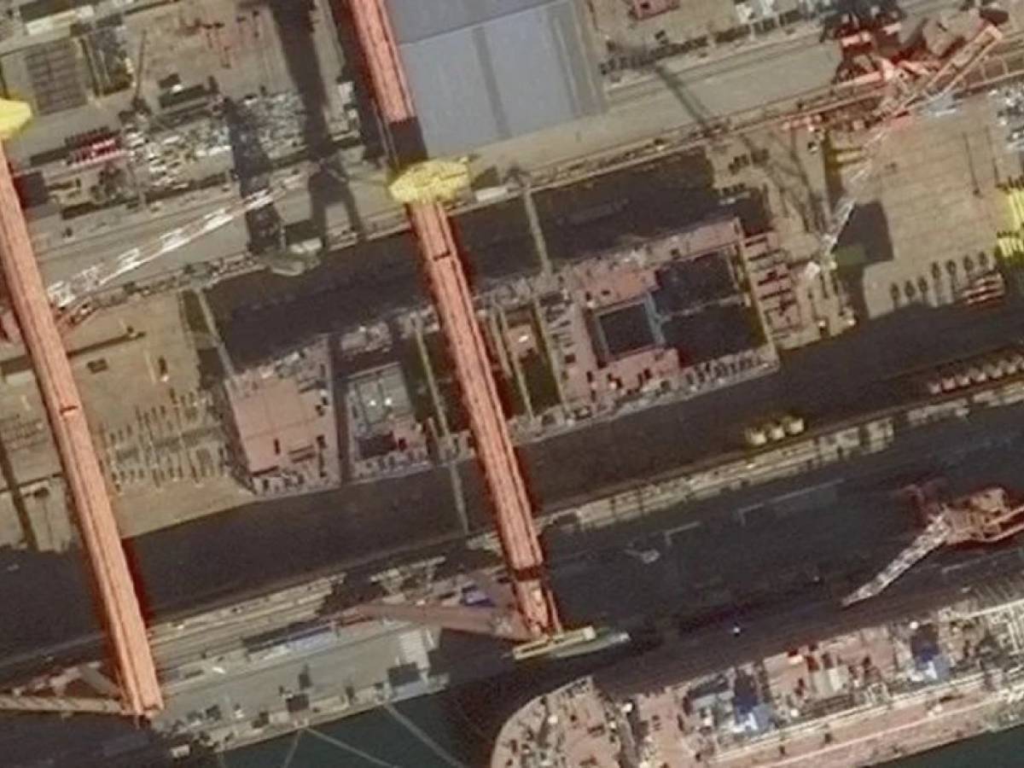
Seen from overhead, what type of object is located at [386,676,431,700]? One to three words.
shed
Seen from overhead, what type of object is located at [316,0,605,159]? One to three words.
building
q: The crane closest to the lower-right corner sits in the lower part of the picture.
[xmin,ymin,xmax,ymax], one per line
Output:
[818,479,1024,607]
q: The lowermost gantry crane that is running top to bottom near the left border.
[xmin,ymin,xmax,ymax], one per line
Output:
[0,91,159,719]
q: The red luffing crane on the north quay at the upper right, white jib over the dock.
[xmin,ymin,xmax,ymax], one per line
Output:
[784,22,1006,277]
